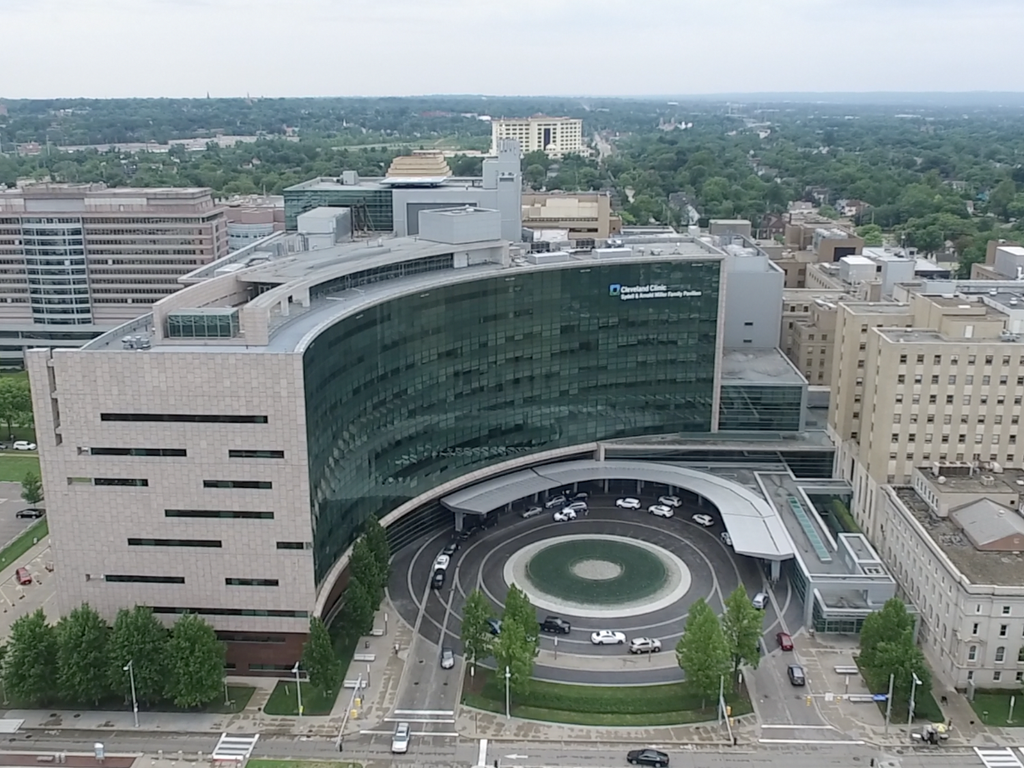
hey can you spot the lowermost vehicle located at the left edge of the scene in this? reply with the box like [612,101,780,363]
[15,568,32,586]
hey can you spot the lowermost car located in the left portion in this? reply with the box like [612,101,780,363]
[388,724,414,754]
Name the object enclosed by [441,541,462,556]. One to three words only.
car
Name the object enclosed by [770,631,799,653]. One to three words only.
car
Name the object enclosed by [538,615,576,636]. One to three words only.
truck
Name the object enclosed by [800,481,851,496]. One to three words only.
bridge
